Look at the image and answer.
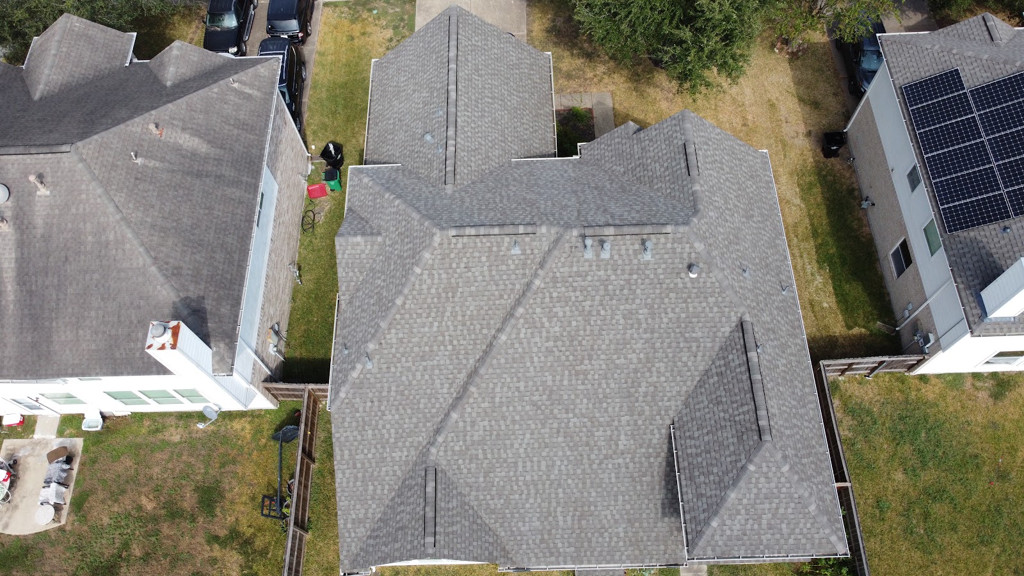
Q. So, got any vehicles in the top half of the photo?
Yes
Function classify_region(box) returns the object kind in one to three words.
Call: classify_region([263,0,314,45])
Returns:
car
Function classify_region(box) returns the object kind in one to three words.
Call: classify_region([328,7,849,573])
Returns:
house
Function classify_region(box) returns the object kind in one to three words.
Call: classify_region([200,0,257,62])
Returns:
car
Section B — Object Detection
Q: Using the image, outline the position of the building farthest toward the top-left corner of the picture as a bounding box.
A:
[0,15,314,416]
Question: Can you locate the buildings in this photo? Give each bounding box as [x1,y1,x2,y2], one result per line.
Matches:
[0,15,314,416]
[328,7,849,573]
[839,15,1024,374]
